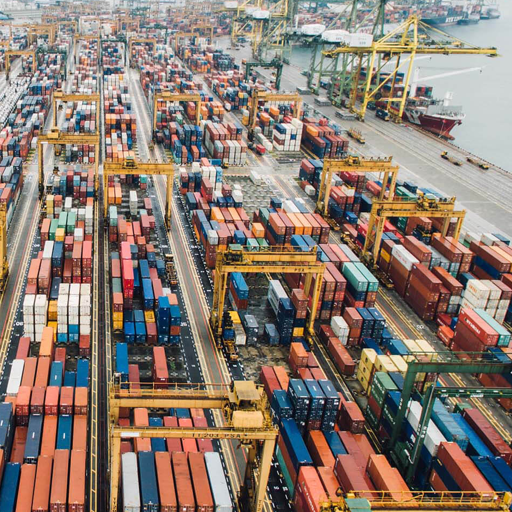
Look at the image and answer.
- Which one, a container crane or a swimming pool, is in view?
container crane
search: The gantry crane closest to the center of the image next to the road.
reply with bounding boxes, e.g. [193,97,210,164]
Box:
[206,240,325,349]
